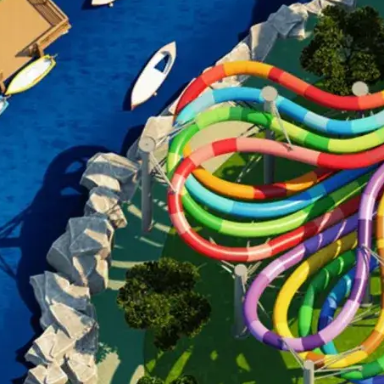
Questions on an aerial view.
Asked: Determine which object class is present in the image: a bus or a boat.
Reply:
boat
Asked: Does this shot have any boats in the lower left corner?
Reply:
No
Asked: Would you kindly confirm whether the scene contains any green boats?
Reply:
No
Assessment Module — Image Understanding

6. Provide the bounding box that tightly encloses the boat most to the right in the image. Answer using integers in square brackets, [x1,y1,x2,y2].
[130,38,176,107]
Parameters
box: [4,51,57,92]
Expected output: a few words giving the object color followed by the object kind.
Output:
white boat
